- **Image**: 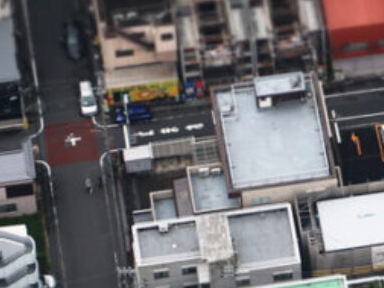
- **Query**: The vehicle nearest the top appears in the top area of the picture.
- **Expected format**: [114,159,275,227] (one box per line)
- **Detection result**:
[66,25,83,57]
